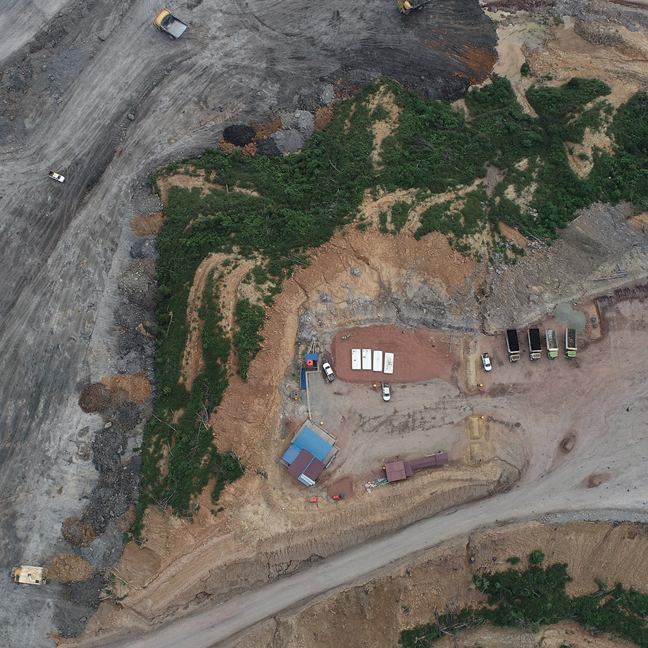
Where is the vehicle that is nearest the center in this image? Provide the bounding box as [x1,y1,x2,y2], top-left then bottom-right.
[322,362,335,382]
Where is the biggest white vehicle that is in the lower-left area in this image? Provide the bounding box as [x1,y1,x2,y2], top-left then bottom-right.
[11,565,49,586]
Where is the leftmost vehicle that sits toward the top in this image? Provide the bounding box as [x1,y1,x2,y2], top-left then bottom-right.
[47,170,65,183]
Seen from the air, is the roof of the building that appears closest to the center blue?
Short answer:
Yes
